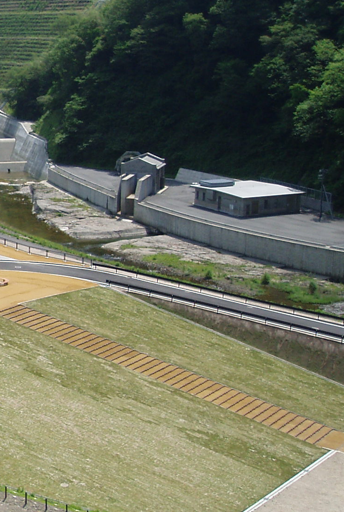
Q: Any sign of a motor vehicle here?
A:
No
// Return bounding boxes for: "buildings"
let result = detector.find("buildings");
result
[188,181,311,217]
[107,152,170,229]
